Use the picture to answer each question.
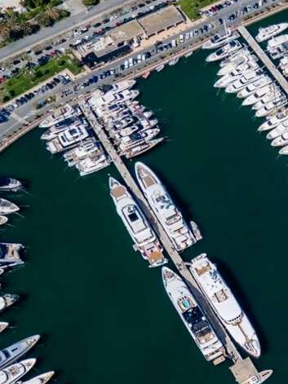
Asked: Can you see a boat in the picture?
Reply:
Yes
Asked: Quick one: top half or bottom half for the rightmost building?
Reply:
top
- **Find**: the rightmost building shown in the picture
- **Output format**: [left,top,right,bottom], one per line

[138,3,188,40]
